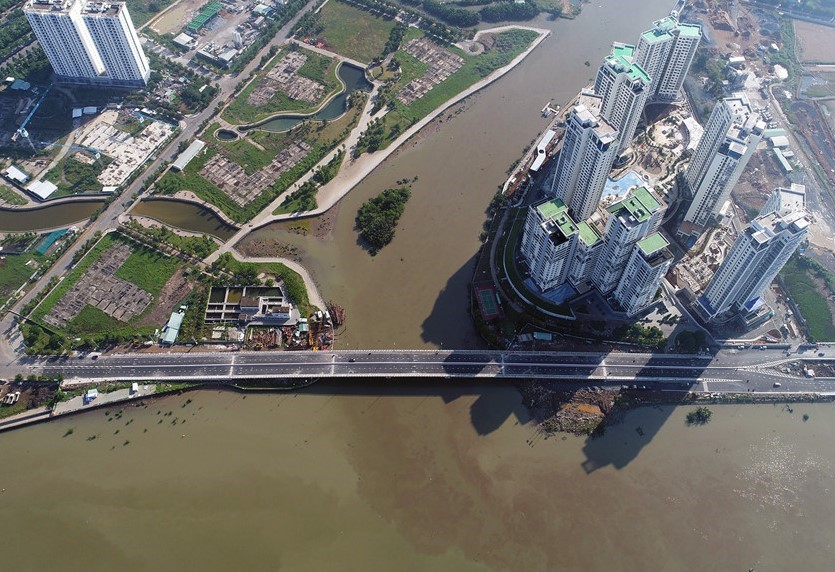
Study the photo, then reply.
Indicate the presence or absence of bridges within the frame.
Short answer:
Yes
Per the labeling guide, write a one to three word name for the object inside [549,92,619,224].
building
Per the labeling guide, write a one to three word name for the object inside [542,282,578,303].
swimming pool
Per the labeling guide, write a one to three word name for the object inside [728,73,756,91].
shed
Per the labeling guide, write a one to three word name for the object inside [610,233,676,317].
building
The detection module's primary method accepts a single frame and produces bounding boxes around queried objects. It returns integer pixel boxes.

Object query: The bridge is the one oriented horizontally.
[20,350,705,382]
